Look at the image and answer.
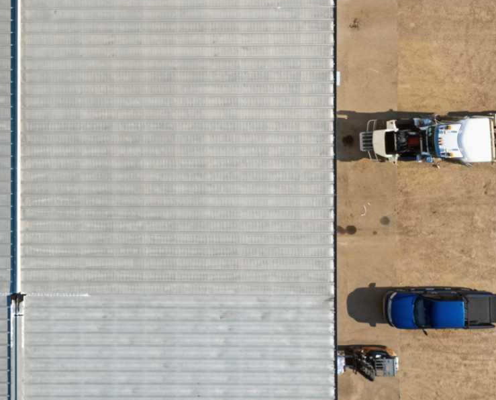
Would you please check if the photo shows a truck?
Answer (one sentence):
Yes, this view includes a truck.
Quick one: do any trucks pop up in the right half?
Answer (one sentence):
Yes, there is a truck in the right half.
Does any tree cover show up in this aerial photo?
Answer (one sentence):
No, tree cover can't be seen anywhere here.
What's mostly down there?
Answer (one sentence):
What you mostly see from above here is buildings.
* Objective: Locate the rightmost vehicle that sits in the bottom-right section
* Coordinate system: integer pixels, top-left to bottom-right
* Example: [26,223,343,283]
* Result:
[379,288,496,336]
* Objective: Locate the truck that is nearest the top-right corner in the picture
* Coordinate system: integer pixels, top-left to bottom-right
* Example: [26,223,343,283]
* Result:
[356,113,496,171]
